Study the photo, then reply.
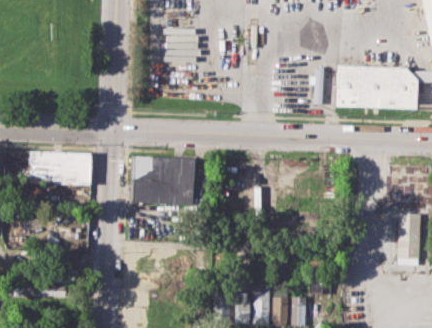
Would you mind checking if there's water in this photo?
No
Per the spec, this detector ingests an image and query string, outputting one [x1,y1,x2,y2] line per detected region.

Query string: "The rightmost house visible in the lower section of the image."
[397,212,420,258]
